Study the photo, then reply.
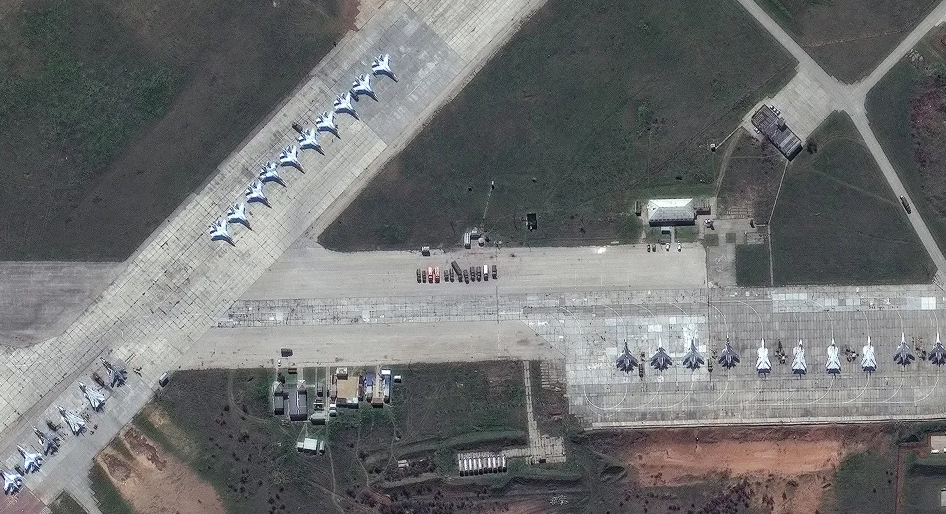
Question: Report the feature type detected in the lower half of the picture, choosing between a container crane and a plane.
plane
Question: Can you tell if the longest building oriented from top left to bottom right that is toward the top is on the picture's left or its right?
right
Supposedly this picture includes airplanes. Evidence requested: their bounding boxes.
[370,53,397,80]
[58,407,86,434]
[102,358,128,386]
[276,144,303,170]
[718,335,740,365]
[311,109,340,135]
[793,338,808,372]
[348,70,376,97]
[331,92,358,117]
[297,126,323,152]
[206,215,234,242]
[257,157,285,184]
[682,338,705,369]
[0,471,24,497]
[615,339,637,370]
[826,337,841,372]
[18,445,43,473]
[861,335,877,369]
[649,337,672,367]
[79,382,106,410]
[32,426,60,455]
[928,333,946,364]
[756,339,770,372]
[224,201,251,227]
[243,178,271,204]
[892,335,915,364]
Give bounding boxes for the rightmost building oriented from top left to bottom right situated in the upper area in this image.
[751,105,803,158]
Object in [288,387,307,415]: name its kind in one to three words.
building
